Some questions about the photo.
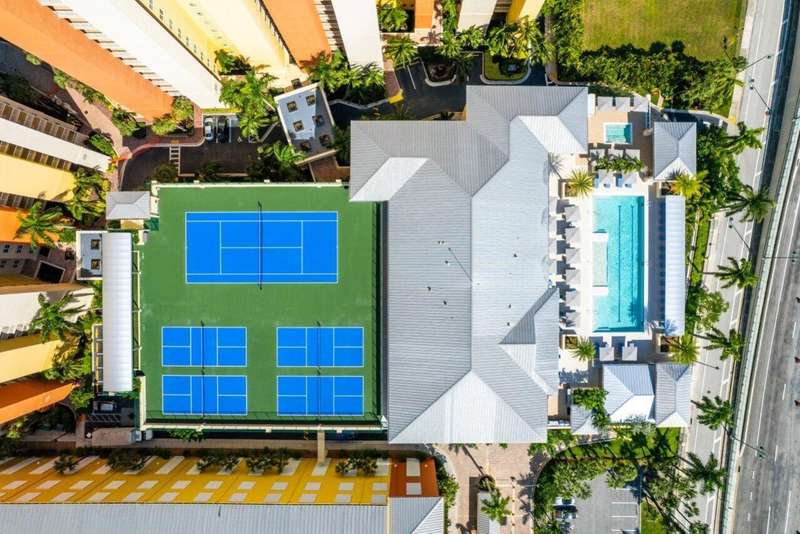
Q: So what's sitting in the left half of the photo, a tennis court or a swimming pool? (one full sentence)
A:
You can see a tennis court in the left half of the photo.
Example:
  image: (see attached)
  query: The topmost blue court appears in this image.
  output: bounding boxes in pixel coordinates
[186,203,338,292]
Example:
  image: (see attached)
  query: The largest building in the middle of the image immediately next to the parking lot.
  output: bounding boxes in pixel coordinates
[351,86,588,443]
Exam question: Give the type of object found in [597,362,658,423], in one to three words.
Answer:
building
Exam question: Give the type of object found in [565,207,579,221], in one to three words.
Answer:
umbrella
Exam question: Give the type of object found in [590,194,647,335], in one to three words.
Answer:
swimming pool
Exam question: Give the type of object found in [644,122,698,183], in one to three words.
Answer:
building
